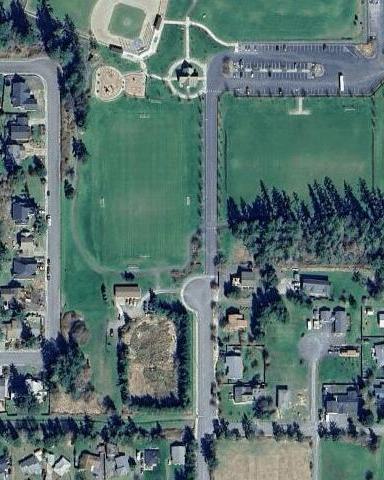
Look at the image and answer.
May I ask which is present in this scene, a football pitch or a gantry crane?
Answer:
football pitch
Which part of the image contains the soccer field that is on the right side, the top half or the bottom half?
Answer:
top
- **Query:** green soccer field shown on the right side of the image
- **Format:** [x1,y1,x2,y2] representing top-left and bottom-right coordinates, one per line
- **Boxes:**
[227,98,372,210]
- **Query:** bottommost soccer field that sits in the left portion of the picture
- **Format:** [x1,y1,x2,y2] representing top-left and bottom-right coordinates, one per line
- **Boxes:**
[74,100,198,265]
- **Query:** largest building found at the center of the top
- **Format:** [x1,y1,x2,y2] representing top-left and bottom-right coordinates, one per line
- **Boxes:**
[179,71,199,87]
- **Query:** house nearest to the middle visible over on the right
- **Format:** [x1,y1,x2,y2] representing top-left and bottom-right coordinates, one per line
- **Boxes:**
[233,269,256,287]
